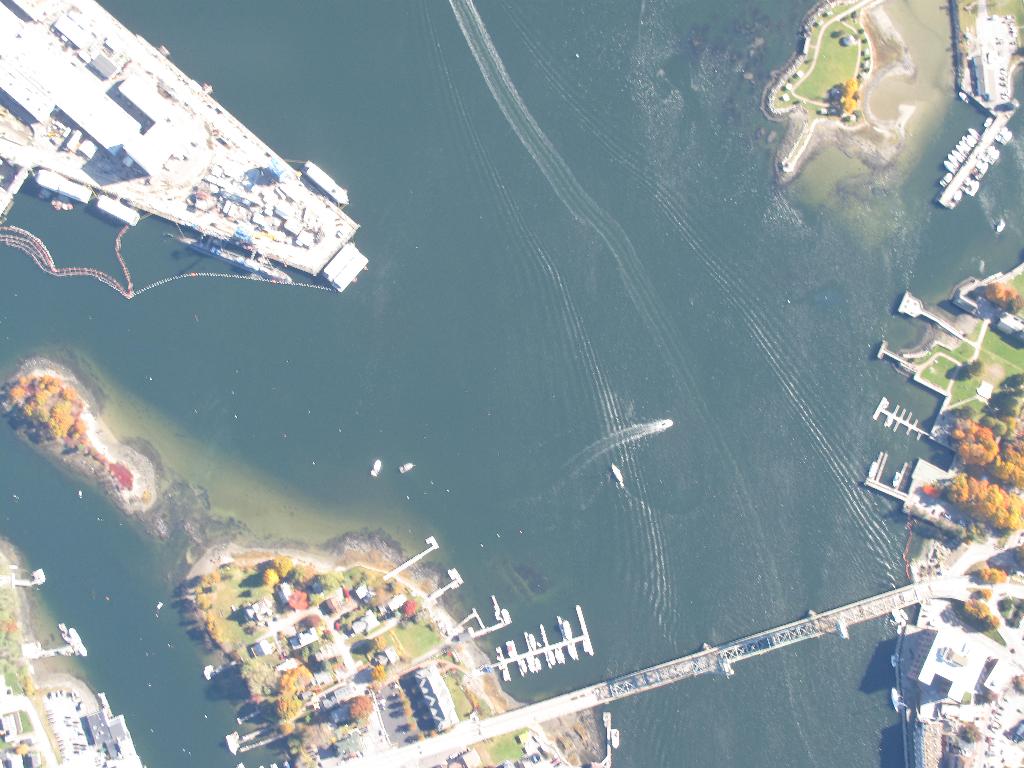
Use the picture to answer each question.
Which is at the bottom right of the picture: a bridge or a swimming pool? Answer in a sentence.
There is a bridge at the bottom right of the picture.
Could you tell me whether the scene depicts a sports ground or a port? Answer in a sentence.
It's a port.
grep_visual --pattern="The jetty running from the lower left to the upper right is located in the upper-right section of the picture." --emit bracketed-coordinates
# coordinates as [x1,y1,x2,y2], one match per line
[936,110,1008,208]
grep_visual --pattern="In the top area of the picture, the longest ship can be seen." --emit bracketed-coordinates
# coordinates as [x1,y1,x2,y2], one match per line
[174,236,295,282]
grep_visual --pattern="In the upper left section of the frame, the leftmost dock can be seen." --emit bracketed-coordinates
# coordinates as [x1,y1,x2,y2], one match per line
[0,165,32,221]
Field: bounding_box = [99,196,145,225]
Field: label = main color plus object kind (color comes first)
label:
white ship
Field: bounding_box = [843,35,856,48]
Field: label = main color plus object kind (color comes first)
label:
white gazebo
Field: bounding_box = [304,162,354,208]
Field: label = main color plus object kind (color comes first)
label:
white ship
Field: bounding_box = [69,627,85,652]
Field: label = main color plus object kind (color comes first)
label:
white boat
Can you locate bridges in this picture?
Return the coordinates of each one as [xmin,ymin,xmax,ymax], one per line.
[602,583,920,701]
